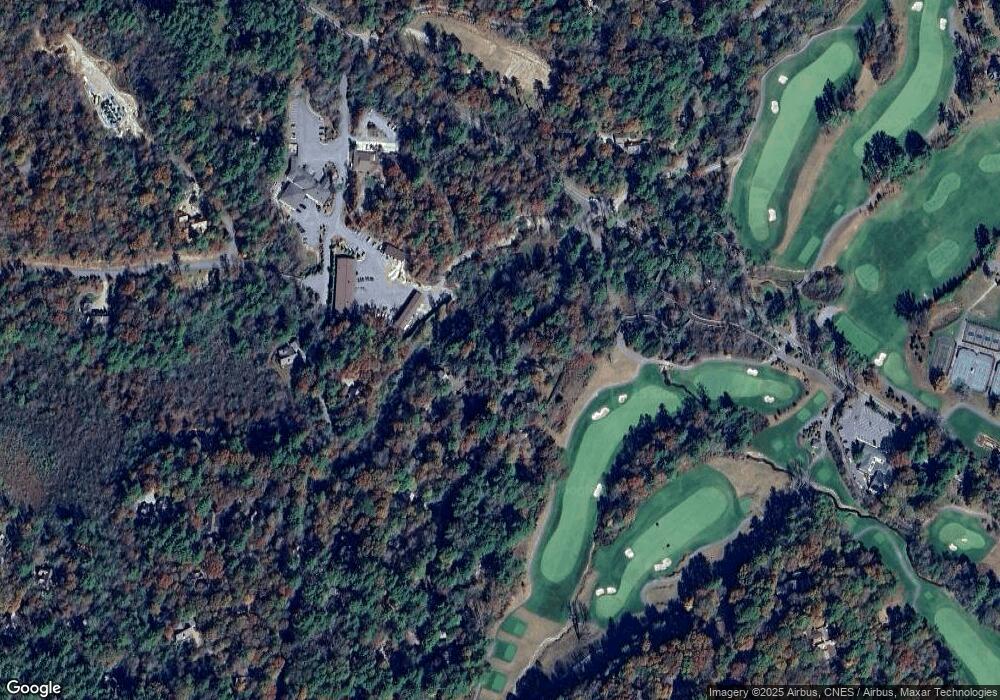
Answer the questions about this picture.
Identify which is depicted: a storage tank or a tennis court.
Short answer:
tennis court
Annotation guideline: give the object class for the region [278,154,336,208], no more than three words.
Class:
building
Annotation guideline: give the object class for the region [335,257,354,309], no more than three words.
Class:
barn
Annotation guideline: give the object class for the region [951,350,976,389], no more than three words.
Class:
tennis court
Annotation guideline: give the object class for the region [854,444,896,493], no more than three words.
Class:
building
